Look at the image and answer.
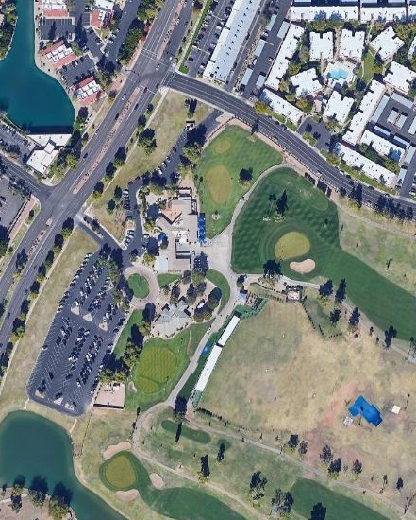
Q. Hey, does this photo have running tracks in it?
No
